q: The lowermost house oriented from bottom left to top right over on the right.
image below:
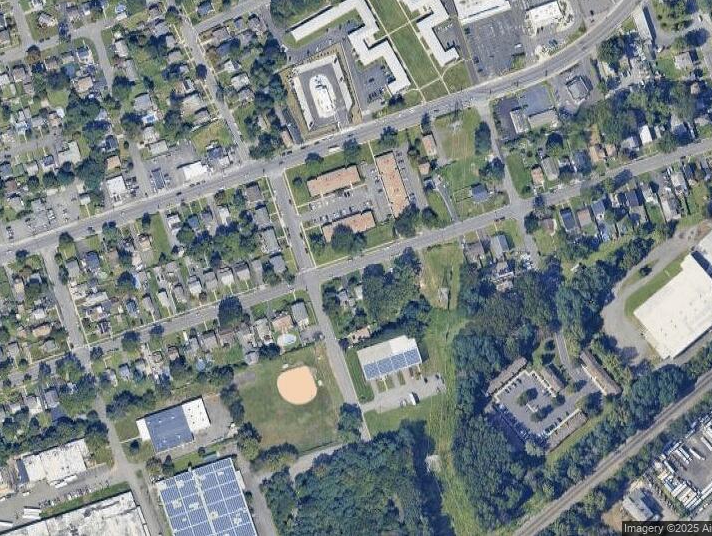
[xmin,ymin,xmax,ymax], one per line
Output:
[542,412,587,453]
